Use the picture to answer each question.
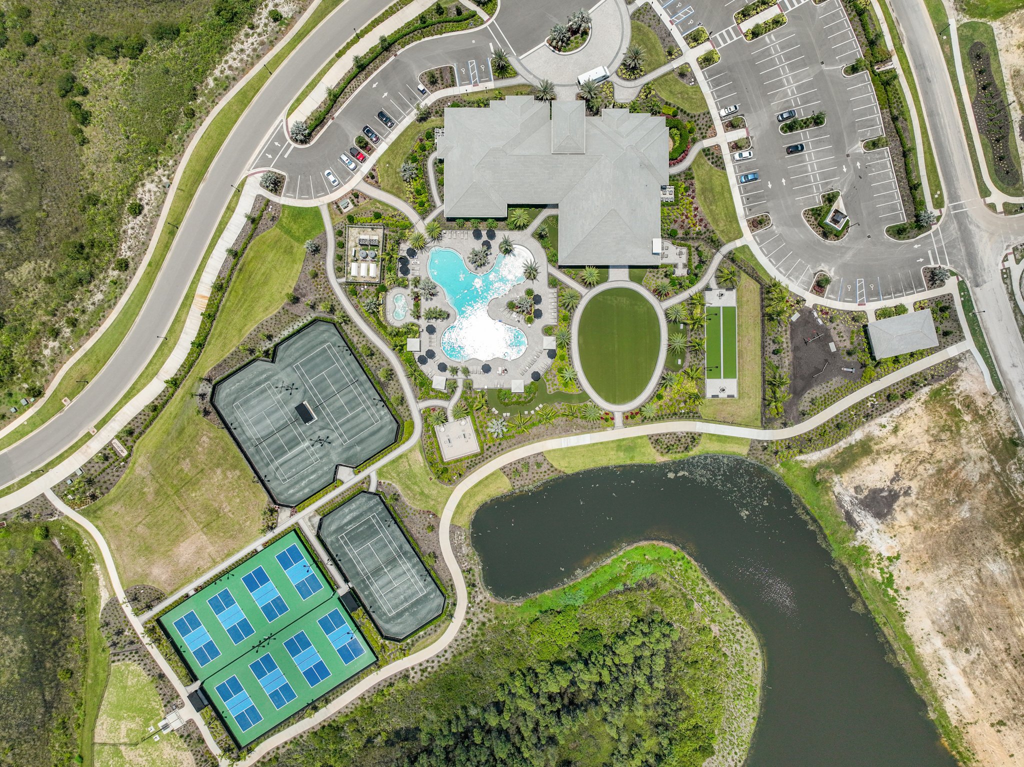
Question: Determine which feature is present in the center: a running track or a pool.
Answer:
pool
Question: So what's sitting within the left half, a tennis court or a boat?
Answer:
tennis court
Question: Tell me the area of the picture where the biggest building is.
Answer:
top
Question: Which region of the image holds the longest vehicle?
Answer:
top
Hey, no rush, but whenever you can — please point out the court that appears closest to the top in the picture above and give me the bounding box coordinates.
[215,320,397,505]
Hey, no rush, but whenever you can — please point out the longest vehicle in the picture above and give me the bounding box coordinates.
[575,65,611,89]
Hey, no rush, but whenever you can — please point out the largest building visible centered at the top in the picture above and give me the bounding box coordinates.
[437,95,669,265]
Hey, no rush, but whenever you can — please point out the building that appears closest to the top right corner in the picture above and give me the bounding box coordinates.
[864,309,939,359]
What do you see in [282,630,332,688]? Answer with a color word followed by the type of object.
blue sports court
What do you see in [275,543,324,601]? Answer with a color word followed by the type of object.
blue sports court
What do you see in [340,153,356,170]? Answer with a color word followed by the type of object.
white car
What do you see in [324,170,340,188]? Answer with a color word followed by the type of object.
white car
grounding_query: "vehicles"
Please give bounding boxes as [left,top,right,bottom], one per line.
[350,147,366,163]
[733,152,753,162]
[776,110,796,122]
[417,83,426,95]
[720,105,738,118]
[376,111,394,128]
[324,170,340,188]
[340,153,356,170]
[575,65,611,89]
[362,126,380,144]
[785,144,803,155]
[739,173,759,183]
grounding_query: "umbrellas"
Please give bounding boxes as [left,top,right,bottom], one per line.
[546,349,557,359]
[533,294,542,304]
[531,371,541,381]
[486,230,496,239]
[425,349,434,359]
[417,354,427,364]
[438,363,448,373]
[473,229,482,239]
[407,247,417,257]
[482,241,491,251]
[533,309,543,318]
[426,324,436,334]
[481,364,491,374]
[399,258,409,267]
